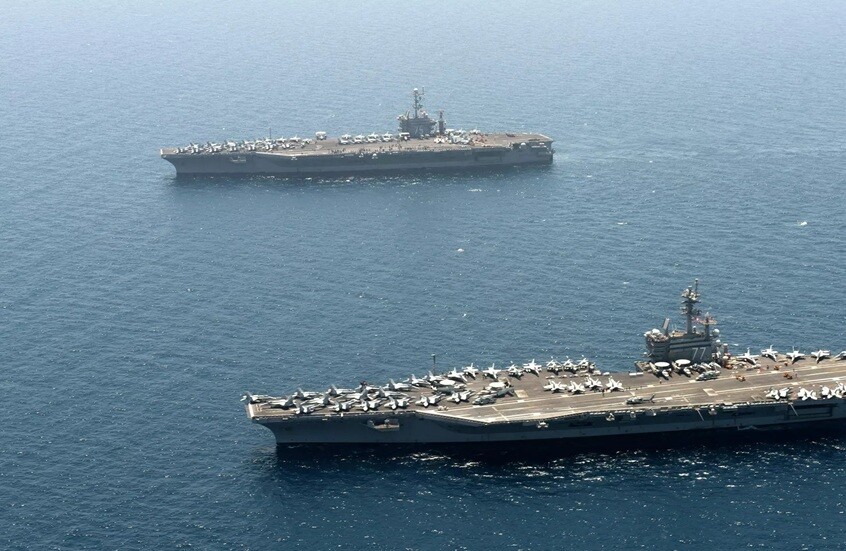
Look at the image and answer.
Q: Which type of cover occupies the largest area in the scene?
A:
water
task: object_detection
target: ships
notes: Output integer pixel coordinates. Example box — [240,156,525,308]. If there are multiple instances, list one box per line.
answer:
[240,280,846,449]
[157,86,552,175]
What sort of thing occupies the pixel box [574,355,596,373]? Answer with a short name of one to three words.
airplane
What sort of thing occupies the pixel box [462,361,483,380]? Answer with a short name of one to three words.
airplane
